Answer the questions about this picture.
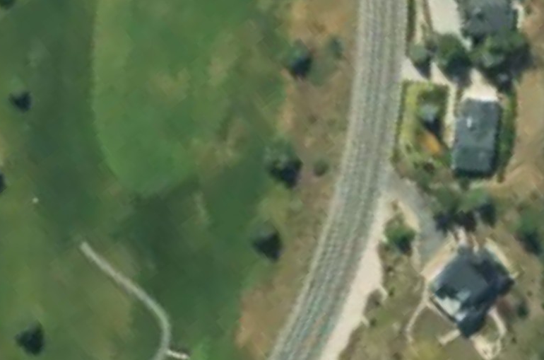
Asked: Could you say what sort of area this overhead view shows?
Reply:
golf course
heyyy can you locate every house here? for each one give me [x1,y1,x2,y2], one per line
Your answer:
[431,240,522,339]
[455,97,505,178]
[460,0,526,40]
